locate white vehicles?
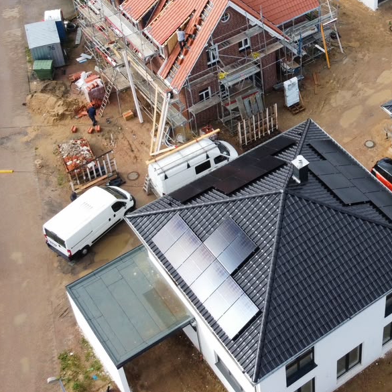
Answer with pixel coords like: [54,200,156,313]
[144,135,237,197]
[29,182,144,265]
